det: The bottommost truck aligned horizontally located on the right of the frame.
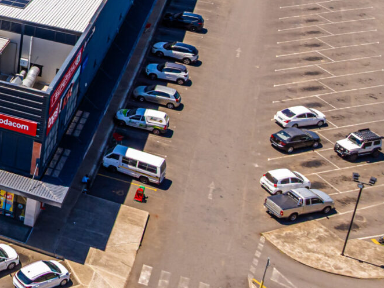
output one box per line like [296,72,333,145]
[265,186,341,222]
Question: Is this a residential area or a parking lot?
parking lot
